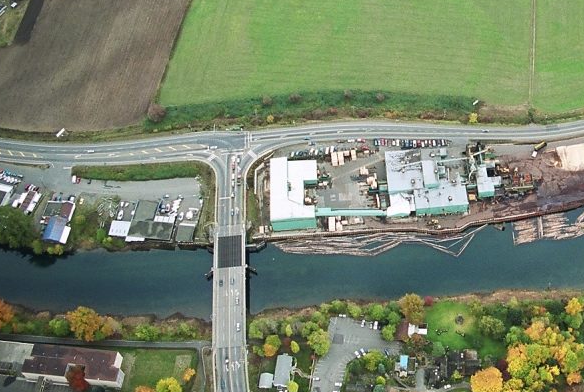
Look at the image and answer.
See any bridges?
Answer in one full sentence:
Yes, a bridge is visible in the scene.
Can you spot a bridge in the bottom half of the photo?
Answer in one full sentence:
Yes, I can see a bridge in the bottom half of the photo.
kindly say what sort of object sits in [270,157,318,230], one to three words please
building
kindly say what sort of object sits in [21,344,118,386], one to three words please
building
